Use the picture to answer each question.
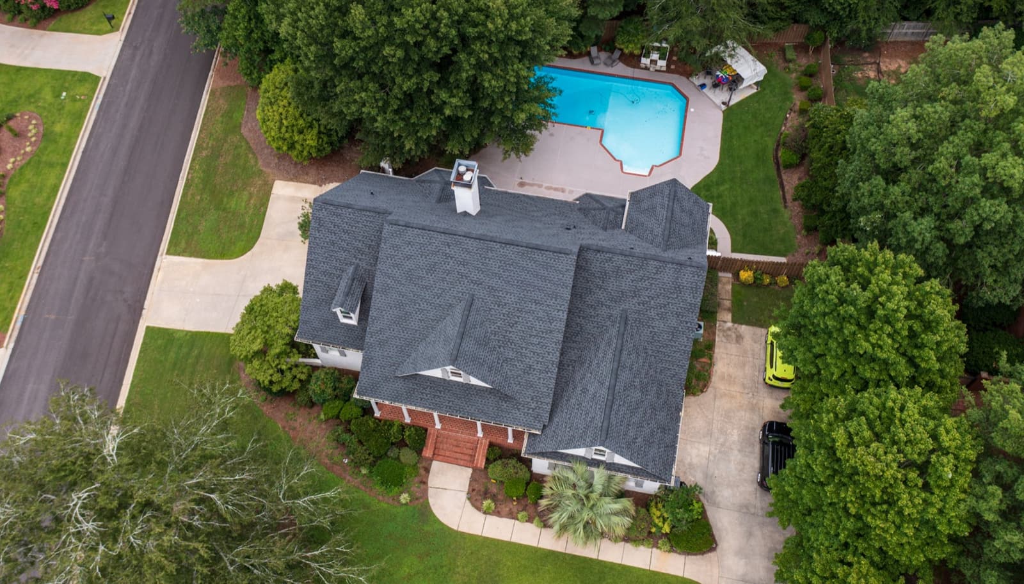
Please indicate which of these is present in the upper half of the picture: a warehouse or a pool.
pool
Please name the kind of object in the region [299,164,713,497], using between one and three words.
house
